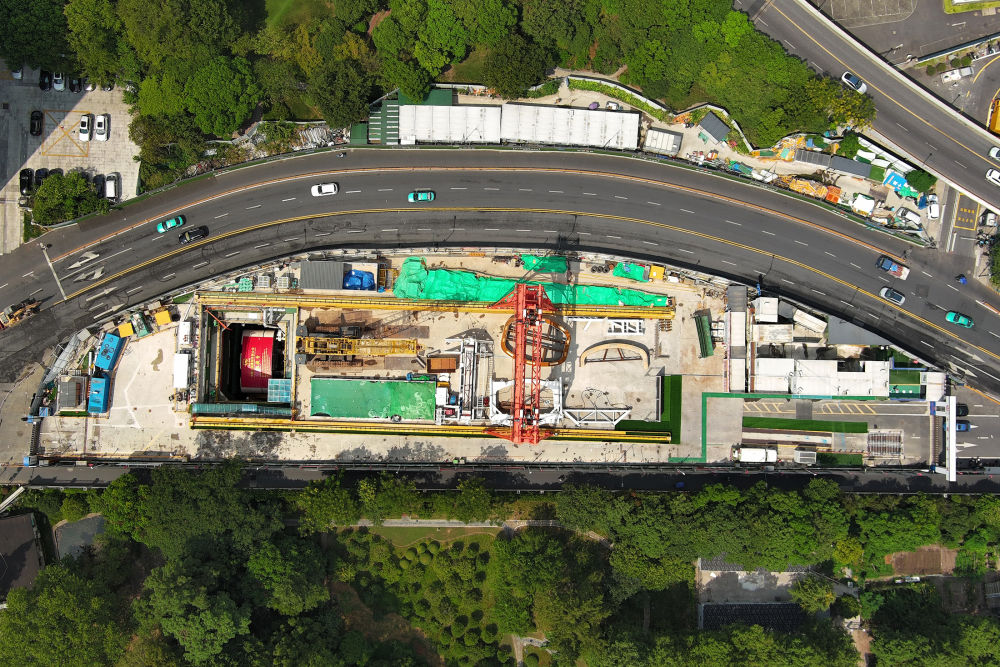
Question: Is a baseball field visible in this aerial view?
No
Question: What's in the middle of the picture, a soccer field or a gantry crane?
gantry crane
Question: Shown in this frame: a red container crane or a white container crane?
red container crane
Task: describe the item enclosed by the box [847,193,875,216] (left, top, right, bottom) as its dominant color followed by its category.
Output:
white gazebo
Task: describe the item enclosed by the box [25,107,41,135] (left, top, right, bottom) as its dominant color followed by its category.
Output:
black car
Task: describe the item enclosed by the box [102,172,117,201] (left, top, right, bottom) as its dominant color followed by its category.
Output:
white vehicle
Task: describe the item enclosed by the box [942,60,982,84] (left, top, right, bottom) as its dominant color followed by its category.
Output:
white truck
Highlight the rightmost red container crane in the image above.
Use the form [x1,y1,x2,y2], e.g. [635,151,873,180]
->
[486,283,562,443]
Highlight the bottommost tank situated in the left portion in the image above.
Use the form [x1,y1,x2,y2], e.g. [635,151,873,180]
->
[310,377,437,424]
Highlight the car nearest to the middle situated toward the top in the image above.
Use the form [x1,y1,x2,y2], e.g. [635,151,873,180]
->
[407,188,435,201]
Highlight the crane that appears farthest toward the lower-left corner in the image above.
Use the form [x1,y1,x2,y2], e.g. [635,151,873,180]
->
[296,325,422,371]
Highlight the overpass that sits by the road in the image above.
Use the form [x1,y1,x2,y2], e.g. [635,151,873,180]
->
[704,0,1000,216]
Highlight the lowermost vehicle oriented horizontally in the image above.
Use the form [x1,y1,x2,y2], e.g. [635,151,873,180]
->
[740,448,779,465]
